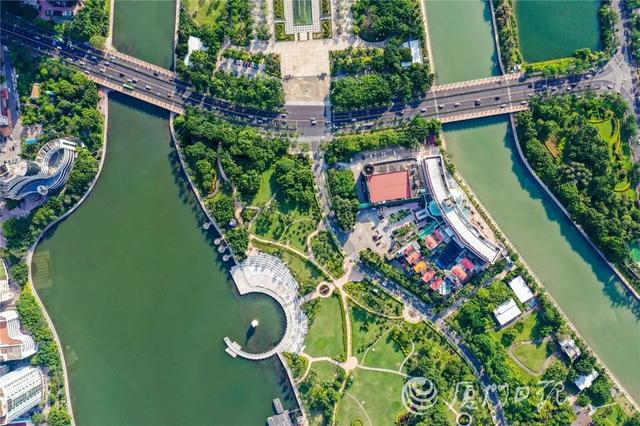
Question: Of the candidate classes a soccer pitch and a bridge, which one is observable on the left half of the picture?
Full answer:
What appears on the left half of the picture is a bridge.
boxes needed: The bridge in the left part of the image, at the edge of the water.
[100,49,182,110]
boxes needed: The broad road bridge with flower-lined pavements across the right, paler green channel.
[431,75,516,123]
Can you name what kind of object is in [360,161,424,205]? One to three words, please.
building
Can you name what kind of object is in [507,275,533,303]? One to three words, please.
building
